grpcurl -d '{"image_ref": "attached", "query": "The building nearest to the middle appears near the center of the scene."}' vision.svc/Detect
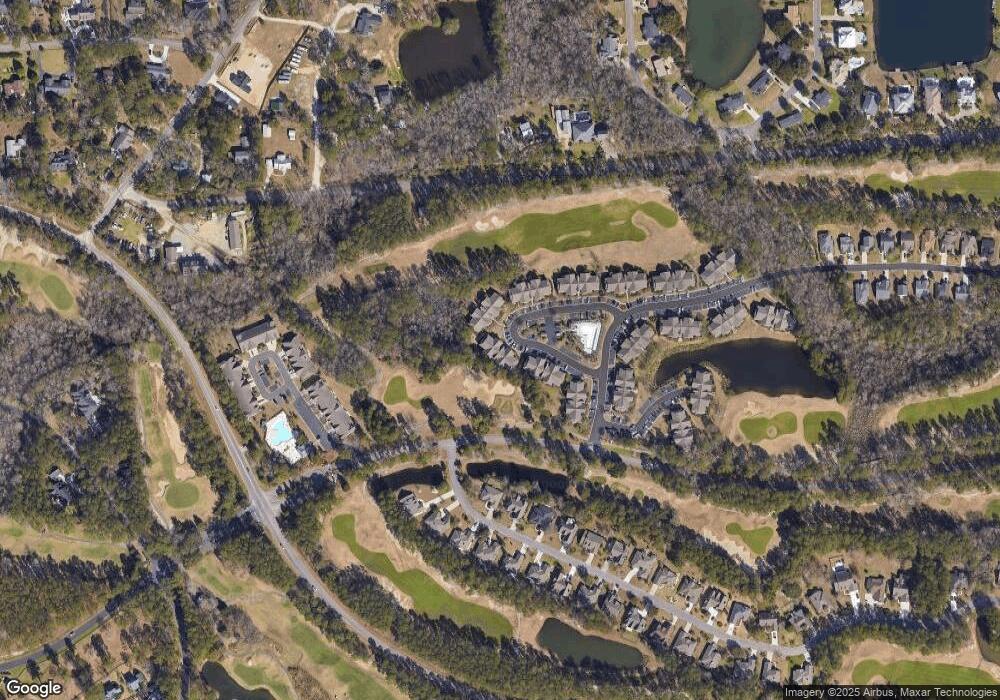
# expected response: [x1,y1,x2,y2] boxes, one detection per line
[479,334,520,368]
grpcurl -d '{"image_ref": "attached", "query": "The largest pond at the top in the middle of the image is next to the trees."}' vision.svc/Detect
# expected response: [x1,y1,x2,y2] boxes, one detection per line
[402,1,497,99]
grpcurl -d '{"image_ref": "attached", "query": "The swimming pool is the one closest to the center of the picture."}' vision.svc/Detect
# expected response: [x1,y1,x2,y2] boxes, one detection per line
[572,320,602,354]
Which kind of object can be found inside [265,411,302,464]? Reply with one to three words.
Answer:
swimming pool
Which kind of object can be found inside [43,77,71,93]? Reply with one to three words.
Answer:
house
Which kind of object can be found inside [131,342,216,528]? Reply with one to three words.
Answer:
golf course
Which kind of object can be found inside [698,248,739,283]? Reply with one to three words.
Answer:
building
